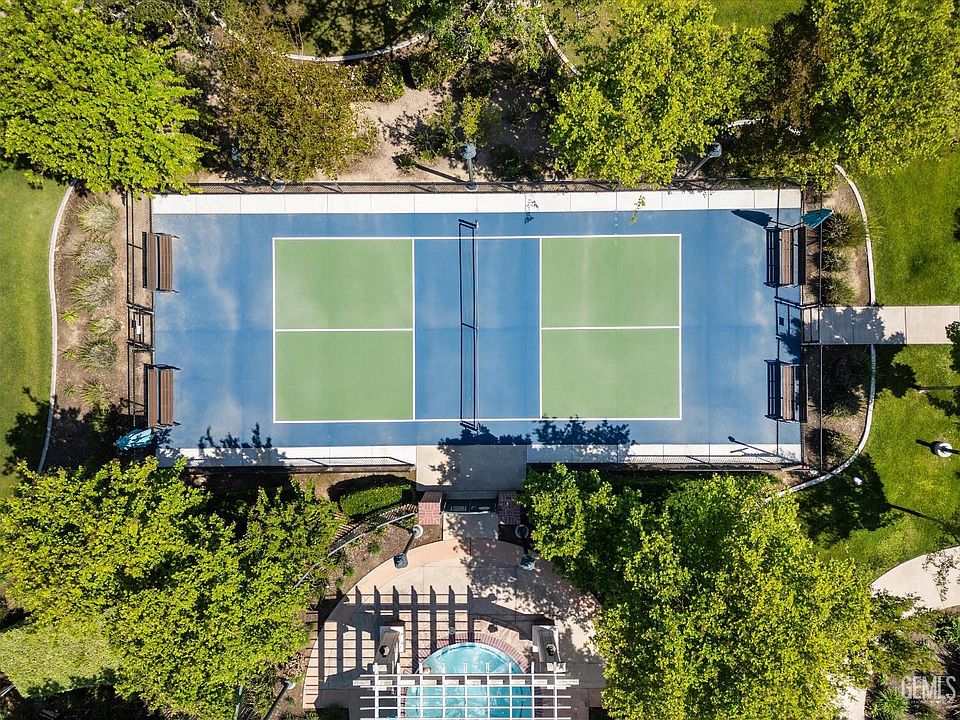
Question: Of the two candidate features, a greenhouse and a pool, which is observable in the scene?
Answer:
pool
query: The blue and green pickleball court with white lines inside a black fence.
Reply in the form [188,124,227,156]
[153,209,803,447]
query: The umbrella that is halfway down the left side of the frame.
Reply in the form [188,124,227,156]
[116,425,168,446]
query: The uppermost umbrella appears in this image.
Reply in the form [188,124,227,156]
[796,208,835,230]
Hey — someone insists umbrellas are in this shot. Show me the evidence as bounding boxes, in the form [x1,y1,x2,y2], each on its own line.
[796,208,835,230]
[116,425,168,446]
